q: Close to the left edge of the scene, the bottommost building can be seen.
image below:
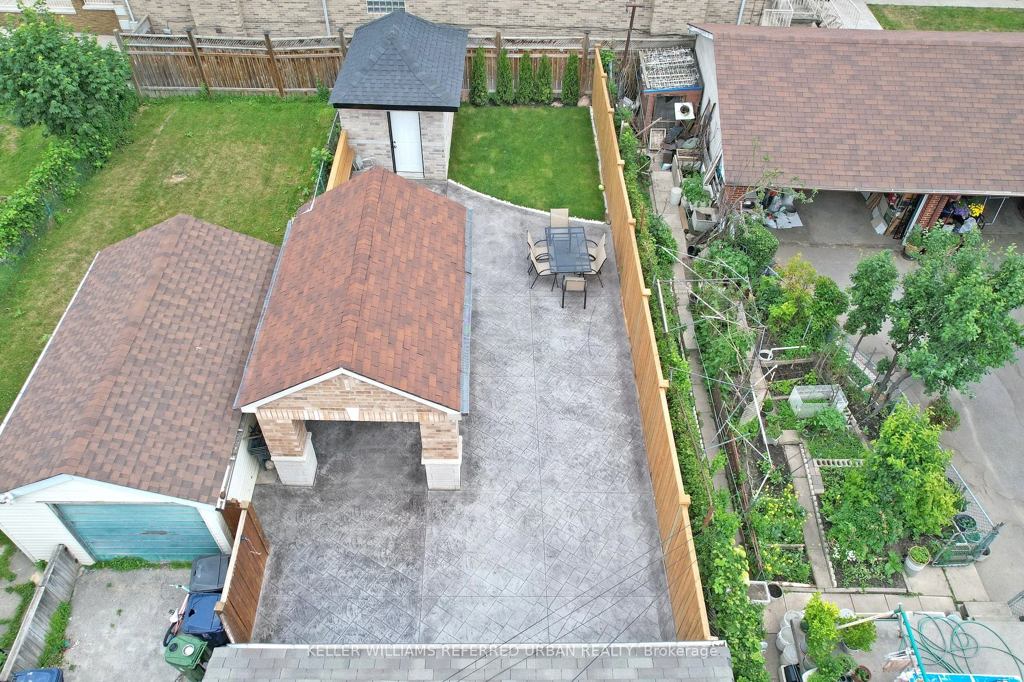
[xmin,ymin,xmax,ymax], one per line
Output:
[0,210,278,560]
